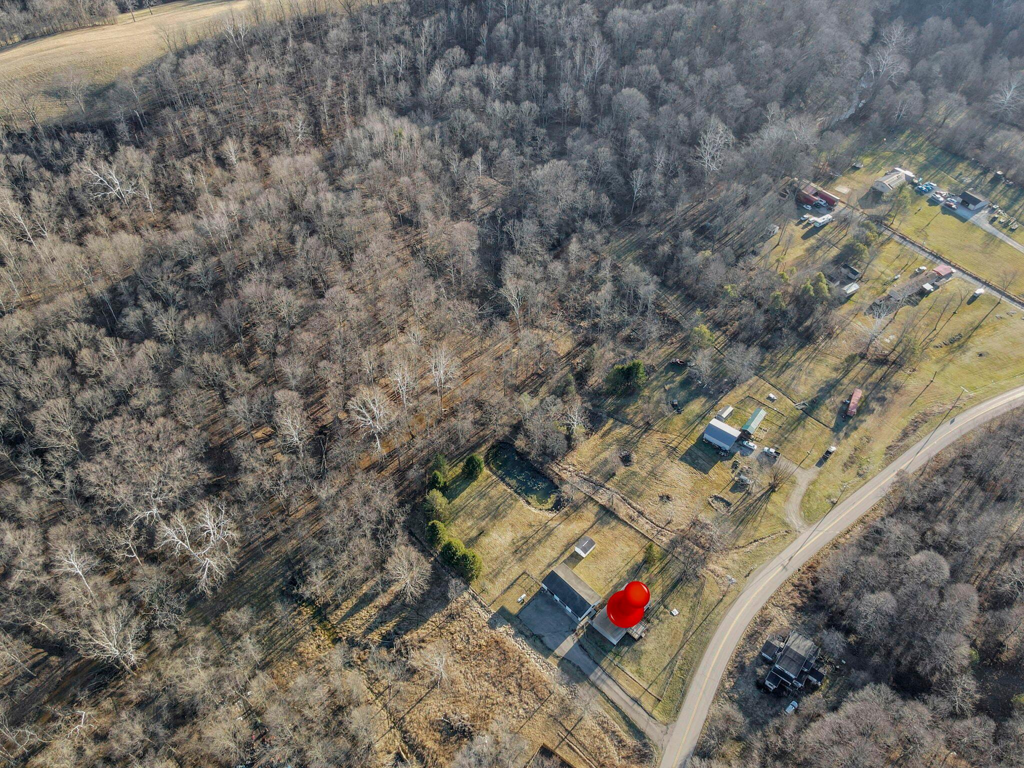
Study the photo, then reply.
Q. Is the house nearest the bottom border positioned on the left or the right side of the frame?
right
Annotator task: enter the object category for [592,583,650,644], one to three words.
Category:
house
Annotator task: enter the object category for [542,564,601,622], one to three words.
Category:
building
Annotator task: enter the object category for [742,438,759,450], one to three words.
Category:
vehicle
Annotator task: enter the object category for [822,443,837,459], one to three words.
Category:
vehicle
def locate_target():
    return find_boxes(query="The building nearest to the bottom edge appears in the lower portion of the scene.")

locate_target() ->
[759,631,825,690]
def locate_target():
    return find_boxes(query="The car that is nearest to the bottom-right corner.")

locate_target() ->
[784,696,802,718]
